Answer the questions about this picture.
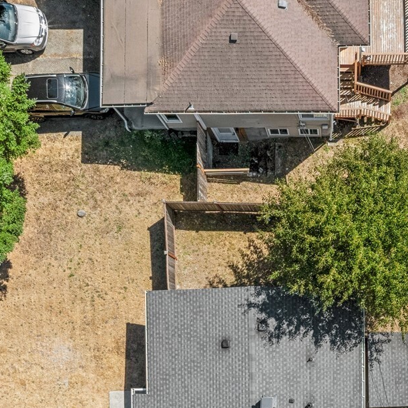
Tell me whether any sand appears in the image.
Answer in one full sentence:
No, the picture contains no sand.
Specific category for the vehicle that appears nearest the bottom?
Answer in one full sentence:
The vehicle that appears nearest the bottom appears to be a car.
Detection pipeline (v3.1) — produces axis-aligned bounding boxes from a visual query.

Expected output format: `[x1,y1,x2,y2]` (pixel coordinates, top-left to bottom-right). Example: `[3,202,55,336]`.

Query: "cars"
[0,0,52,52]
[17,68,118,123]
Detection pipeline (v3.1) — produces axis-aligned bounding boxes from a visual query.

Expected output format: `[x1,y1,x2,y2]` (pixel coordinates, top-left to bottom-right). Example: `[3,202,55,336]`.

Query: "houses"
[130,288,368,408]
[99,0,373,149]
